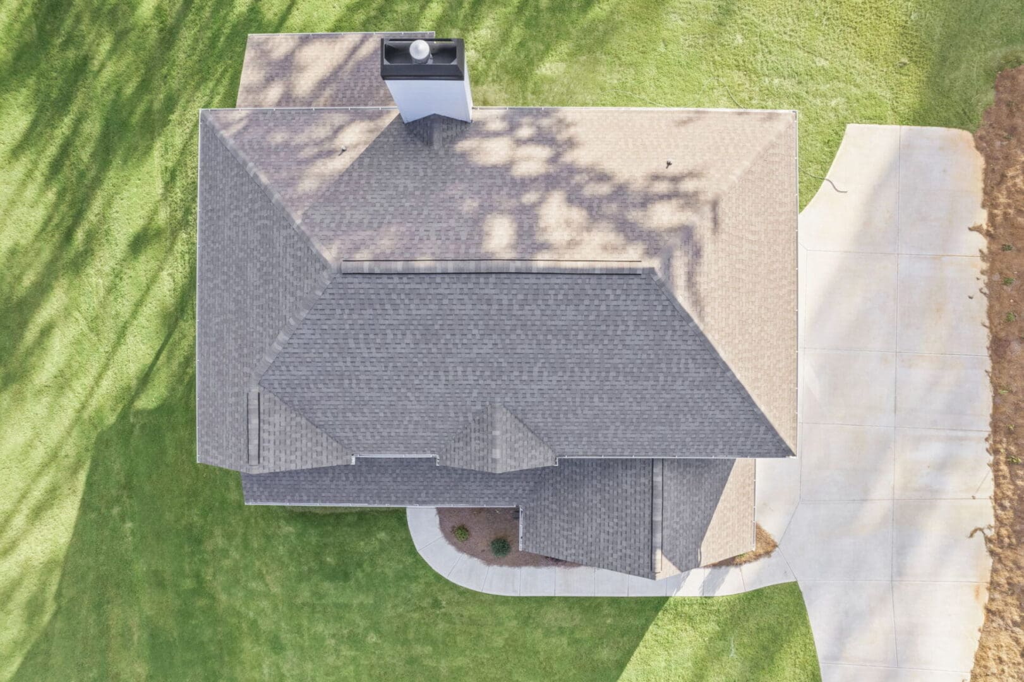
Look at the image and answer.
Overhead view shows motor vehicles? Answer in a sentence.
No, there is no motor vehicle in the image.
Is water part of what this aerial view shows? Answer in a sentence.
No, there's no water in this view.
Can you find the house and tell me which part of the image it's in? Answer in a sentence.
The house is located in the center region of the scene.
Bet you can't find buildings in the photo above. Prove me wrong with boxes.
[197,32,799,580]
